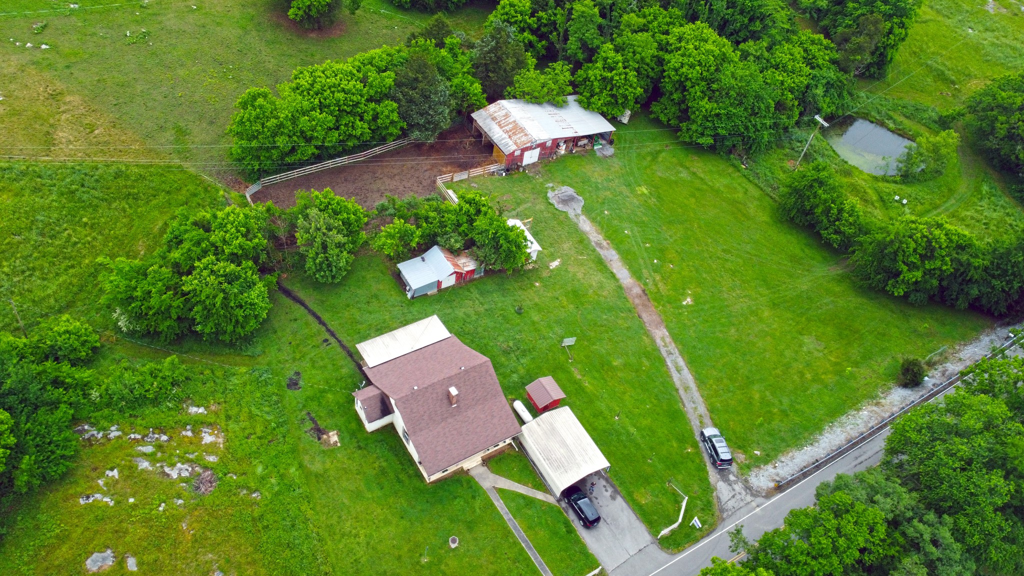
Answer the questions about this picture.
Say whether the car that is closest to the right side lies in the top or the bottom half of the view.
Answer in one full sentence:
Seen from above, the car that is closest to the right side lies in the bottom half of the view.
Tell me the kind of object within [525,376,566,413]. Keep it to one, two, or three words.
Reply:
shed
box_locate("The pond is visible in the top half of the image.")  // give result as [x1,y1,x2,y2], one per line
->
[822,119,923,177]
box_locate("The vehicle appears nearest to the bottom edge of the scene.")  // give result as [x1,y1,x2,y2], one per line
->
[562,483,604,532]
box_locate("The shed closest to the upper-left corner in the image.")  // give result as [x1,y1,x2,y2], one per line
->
[398,246,477,297]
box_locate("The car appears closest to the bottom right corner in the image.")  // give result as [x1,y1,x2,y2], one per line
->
[699,426,733,470]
